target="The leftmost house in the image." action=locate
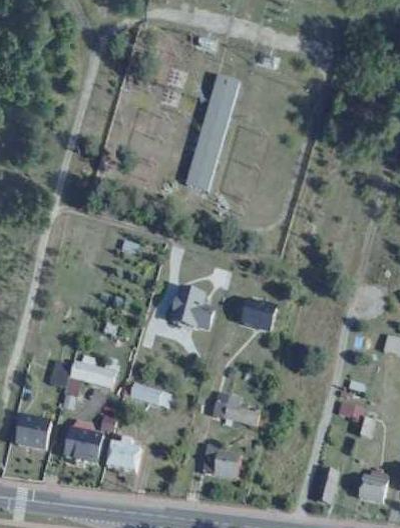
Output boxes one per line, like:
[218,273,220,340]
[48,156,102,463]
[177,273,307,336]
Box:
[10,413,54,450]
